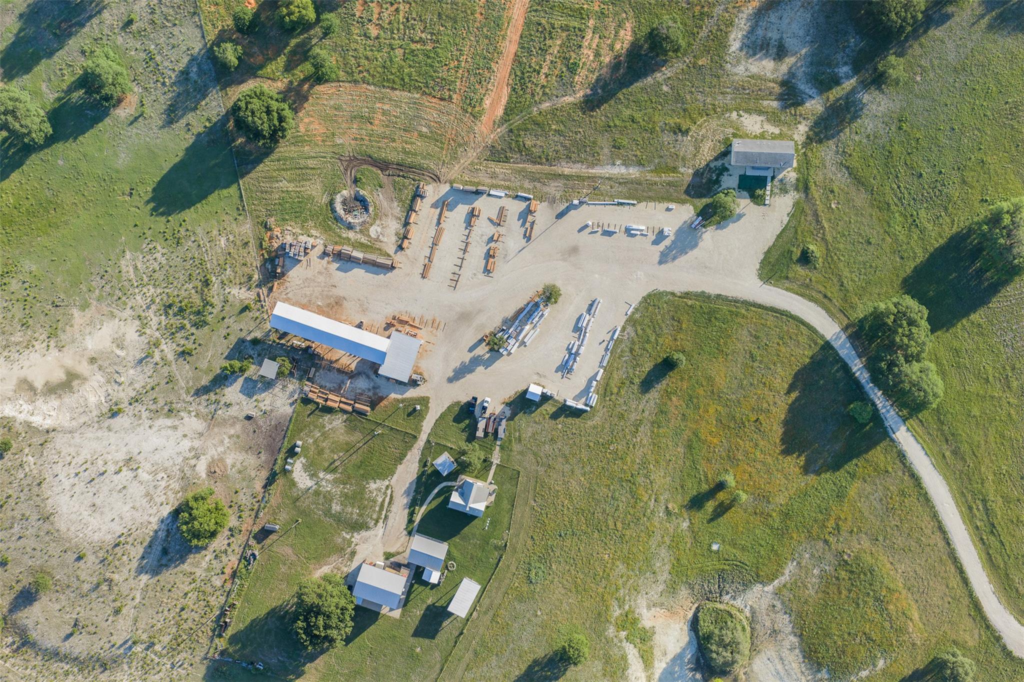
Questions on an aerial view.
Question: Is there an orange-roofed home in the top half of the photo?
No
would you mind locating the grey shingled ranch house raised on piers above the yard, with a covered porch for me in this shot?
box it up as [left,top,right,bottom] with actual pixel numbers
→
[729,139,797,176]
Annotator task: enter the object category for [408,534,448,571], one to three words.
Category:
building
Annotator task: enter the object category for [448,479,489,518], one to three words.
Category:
house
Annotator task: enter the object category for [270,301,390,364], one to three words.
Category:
barn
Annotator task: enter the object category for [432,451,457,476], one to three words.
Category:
building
